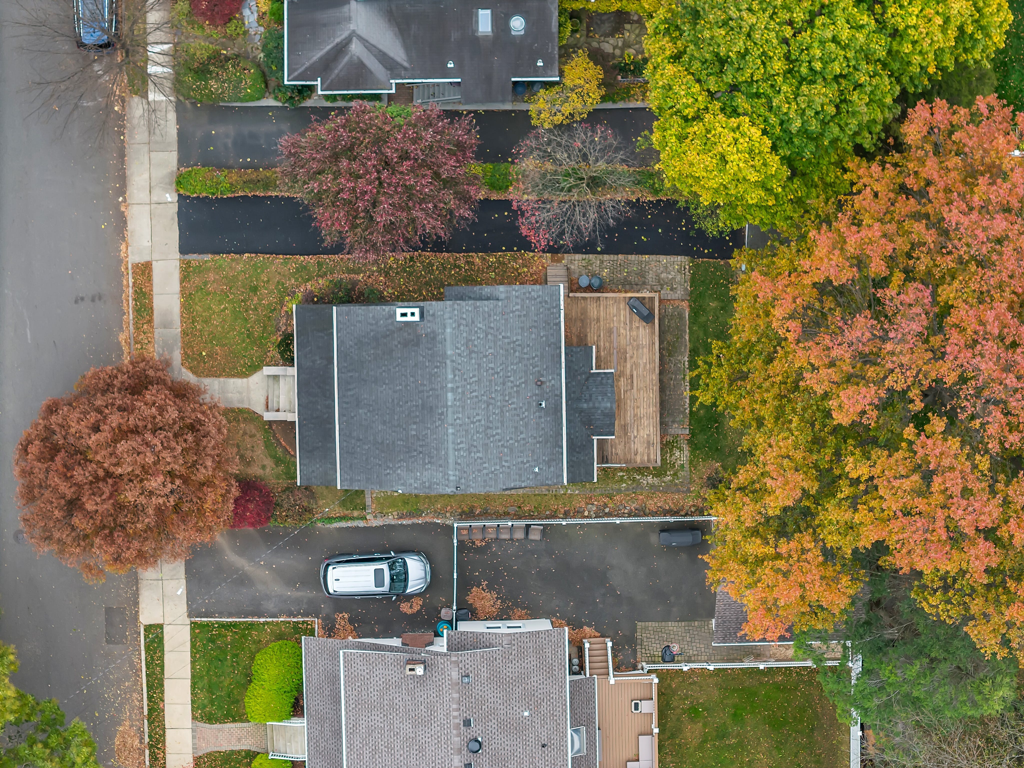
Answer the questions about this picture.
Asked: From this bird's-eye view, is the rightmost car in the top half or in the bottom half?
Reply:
bottom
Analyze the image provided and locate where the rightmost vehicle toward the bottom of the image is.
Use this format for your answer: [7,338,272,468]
[321,550,432,602]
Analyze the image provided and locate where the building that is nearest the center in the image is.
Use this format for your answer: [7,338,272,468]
[293,284,616,495]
